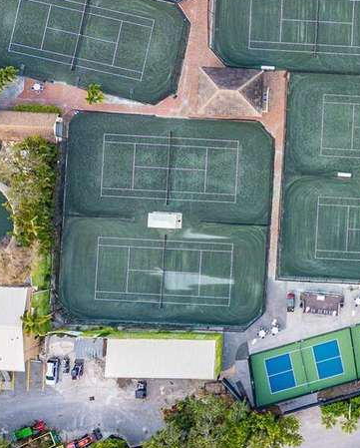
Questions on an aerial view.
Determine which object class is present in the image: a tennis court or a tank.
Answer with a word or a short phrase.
tennis court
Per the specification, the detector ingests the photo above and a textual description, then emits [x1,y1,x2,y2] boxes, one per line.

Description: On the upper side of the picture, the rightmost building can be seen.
[197,67,266,116]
